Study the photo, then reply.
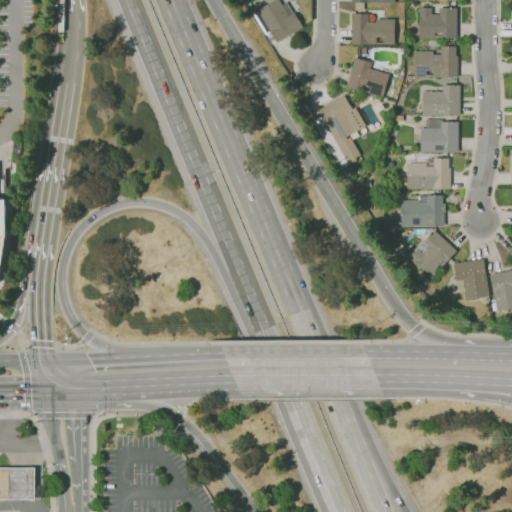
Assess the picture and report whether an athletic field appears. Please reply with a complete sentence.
No, this view has no athletic field in it.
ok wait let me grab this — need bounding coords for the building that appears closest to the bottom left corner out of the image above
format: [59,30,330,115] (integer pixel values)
[0,468,35,502]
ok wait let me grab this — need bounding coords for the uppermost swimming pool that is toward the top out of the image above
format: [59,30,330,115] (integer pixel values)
[374,51,399,64]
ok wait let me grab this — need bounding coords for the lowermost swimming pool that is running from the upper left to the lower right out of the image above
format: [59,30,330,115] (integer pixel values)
[362,104,379,125]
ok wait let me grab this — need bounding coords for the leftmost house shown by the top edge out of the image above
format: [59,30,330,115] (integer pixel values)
[253,0,303,40]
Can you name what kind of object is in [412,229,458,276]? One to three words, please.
house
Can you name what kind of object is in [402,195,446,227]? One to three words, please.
house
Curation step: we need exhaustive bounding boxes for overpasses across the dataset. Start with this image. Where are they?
[204,331,403,412]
